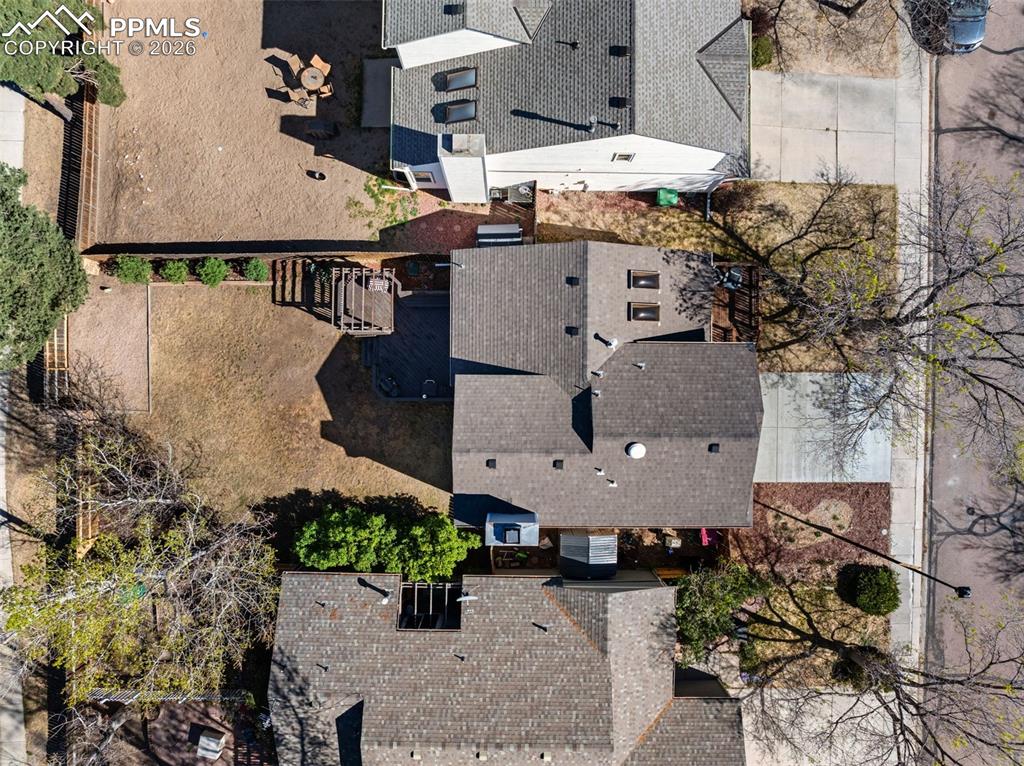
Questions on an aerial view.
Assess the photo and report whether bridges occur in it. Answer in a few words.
No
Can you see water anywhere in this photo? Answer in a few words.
No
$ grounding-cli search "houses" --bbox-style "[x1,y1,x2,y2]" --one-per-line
[268,562,746,766]
[380,0,752,221]
[448,241,767,546]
